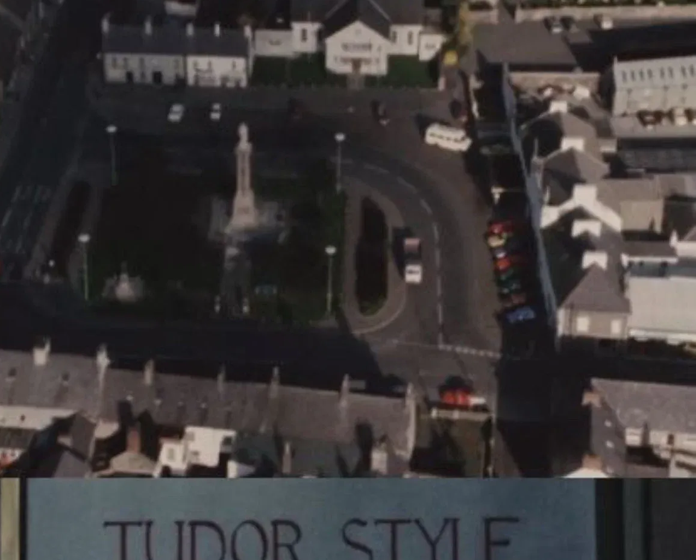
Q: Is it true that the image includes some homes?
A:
Yes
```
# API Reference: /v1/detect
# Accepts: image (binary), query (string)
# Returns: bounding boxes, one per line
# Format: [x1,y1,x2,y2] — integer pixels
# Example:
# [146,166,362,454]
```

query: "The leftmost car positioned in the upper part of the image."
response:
[166,103,184,119]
